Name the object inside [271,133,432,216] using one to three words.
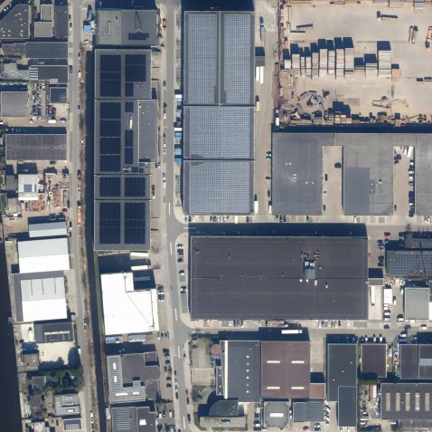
building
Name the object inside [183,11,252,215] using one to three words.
building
